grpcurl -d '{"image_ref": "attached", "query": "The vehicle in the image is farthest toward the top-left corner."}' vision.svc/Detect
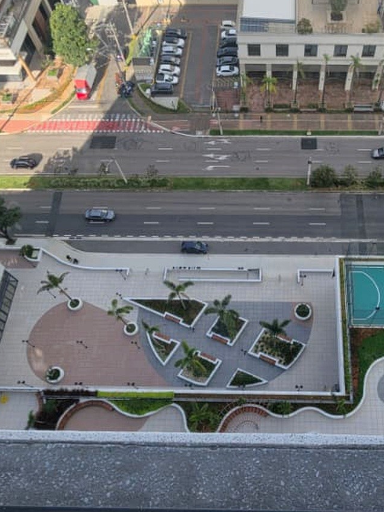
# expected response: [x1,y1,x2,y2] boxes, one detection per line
[73,61,98,100]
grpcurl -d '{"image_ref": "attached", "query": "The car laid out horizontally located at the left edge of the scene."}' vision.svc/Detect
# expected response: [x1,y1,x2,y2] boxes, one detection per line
[9,157,37,170]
